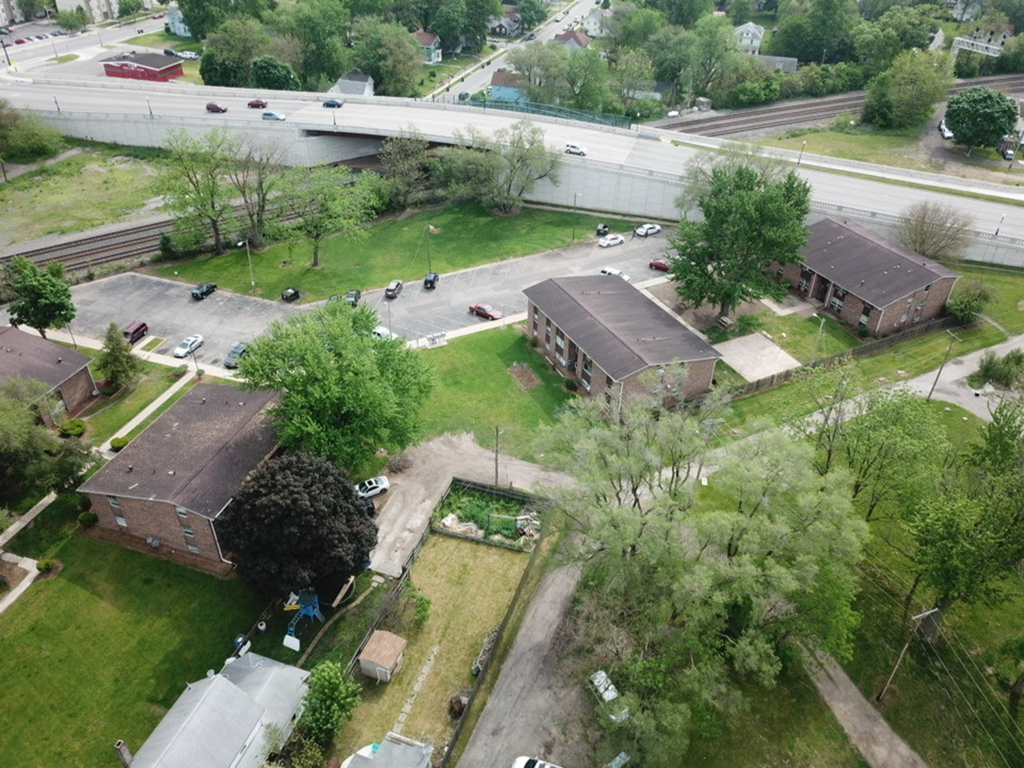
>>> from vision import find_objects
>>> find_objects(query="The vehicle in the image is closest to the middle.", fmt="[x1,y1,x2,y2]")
[469,301,502,318]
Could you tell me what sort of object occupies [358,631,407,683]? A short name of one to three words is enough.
shed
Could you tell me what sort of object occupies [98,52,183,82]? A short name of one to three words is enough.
building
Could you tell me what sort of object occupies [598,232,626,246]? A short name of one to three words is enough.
car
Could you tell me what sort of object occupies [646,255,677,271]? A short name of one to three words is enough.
car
